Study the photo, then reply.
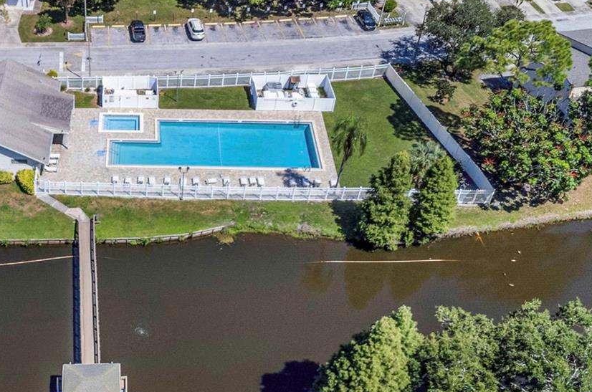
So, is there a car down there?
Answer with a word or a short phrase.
Yes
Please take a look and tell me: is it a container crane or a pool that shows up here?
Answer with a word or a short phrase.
pool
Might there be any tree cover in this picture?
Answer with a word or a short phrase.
Yes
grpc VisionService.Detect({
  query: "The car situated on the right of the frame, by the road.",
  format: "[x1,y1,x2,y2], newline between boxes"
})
[355,10,378,30]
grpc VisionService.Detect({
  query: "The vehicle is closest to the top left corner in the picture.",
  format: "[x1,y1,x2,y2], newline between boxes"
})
[130,19,145,41]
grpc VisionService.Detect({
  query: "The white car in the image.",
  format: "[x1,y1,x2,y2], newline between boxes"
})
[188,19,205,38]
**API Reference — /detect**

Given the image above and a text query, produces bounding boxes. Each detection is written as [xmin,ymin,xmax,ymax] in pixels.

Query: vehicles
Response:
[355,10,378,30]
[130,19,145,41]
[188,19,205,38]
